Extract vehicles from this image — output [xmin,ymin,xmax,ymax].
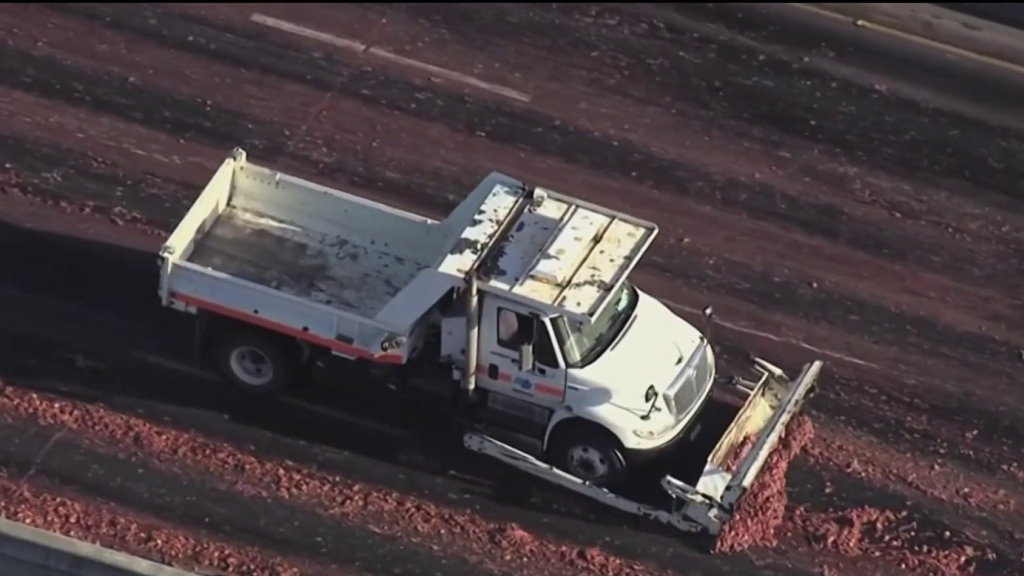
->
[156,146,832,547]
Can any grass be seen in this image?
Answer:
No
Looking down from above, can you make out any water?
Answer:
No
